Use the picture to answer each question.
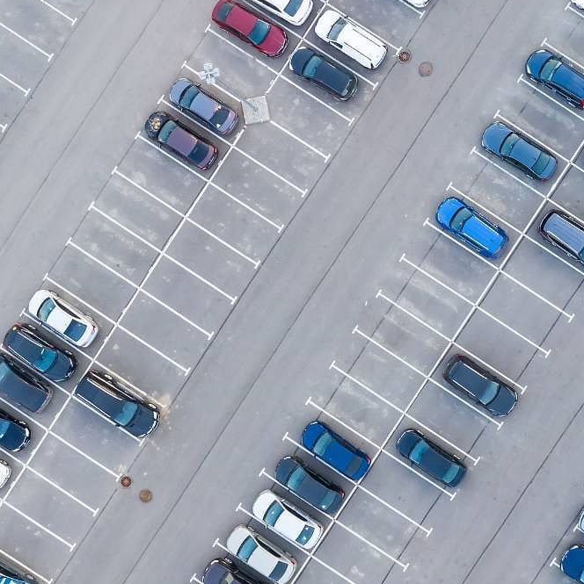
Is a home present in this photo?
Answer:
No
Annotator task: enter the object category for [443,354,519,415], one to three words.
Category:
car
